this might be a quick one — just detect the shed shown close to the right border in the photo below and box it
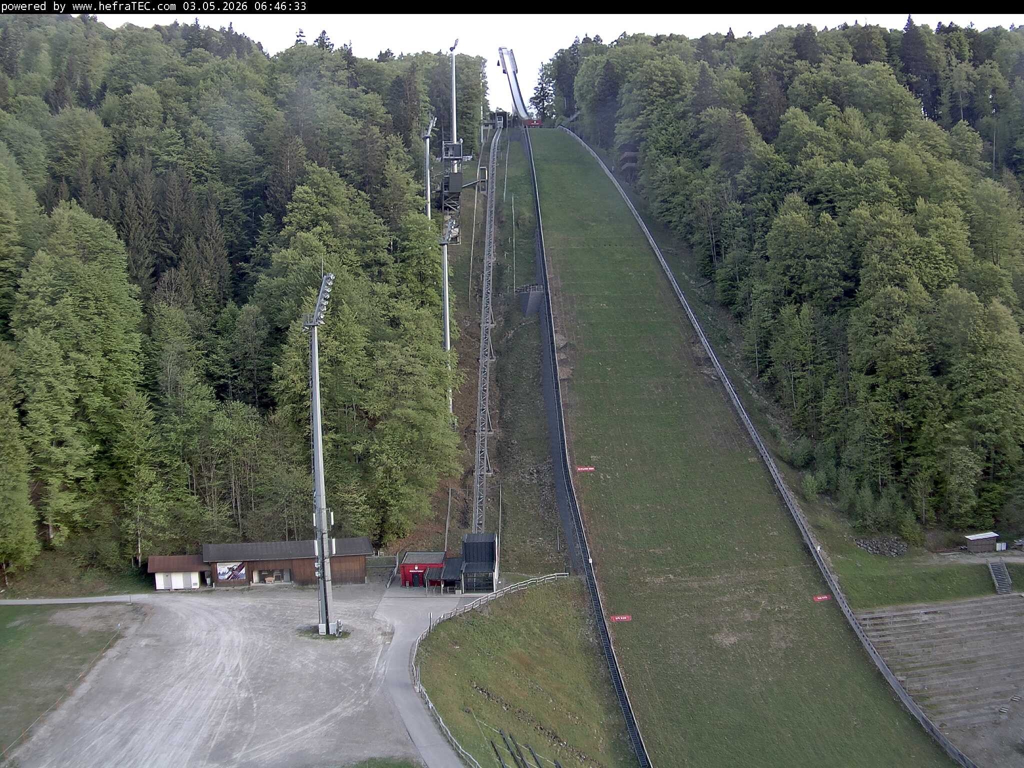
[955,527,1002,552]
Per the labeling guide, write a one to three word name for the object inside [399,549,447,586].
building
